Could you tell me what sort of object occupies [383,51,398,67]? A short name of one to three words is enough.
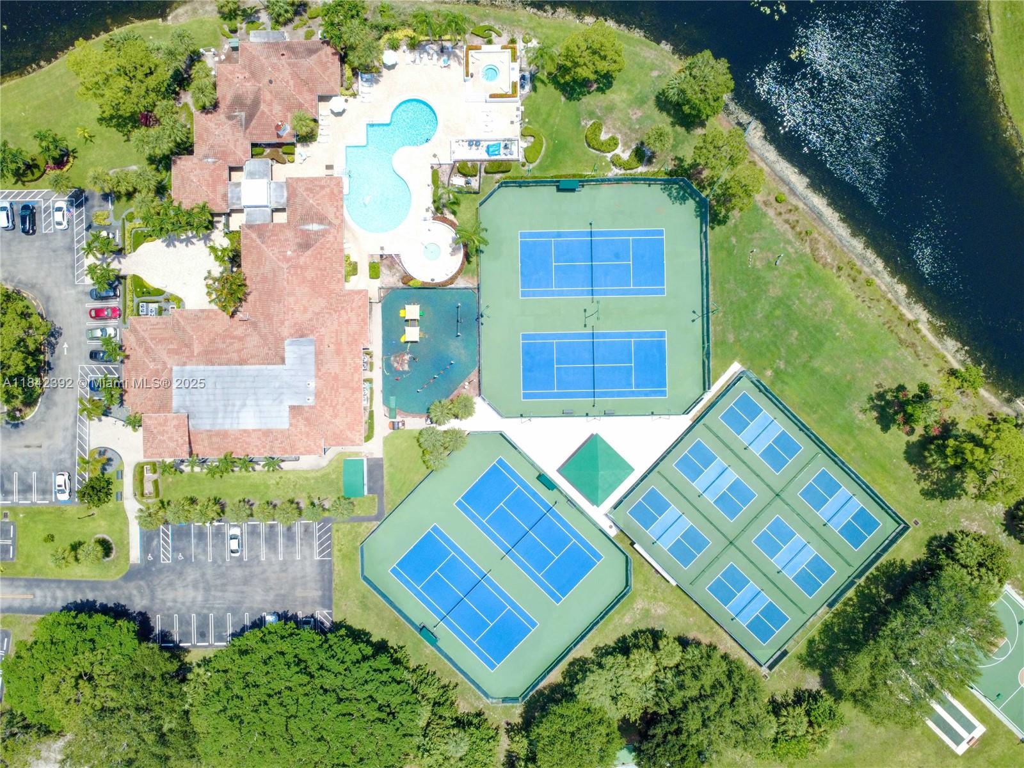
umbrella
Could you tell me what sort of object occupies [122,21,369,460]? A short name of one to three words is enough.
building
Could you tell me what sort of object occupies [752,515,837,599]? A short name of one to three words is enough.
sports court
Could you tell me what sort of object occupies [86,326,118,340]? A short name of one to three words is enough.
car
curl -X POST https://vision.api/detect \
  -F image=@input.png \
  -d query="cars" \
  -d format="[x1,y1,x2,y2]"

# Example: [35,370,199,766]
[90,306,122,320]
[302,616,315,646]
[0,201,16,232]
[88,350,117,361]
[227,526,242,555]
[87,378,117,391]
[55,472,71,501]
[19,205,37,234]
[53,201,70,230]
[86,326,118,340]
